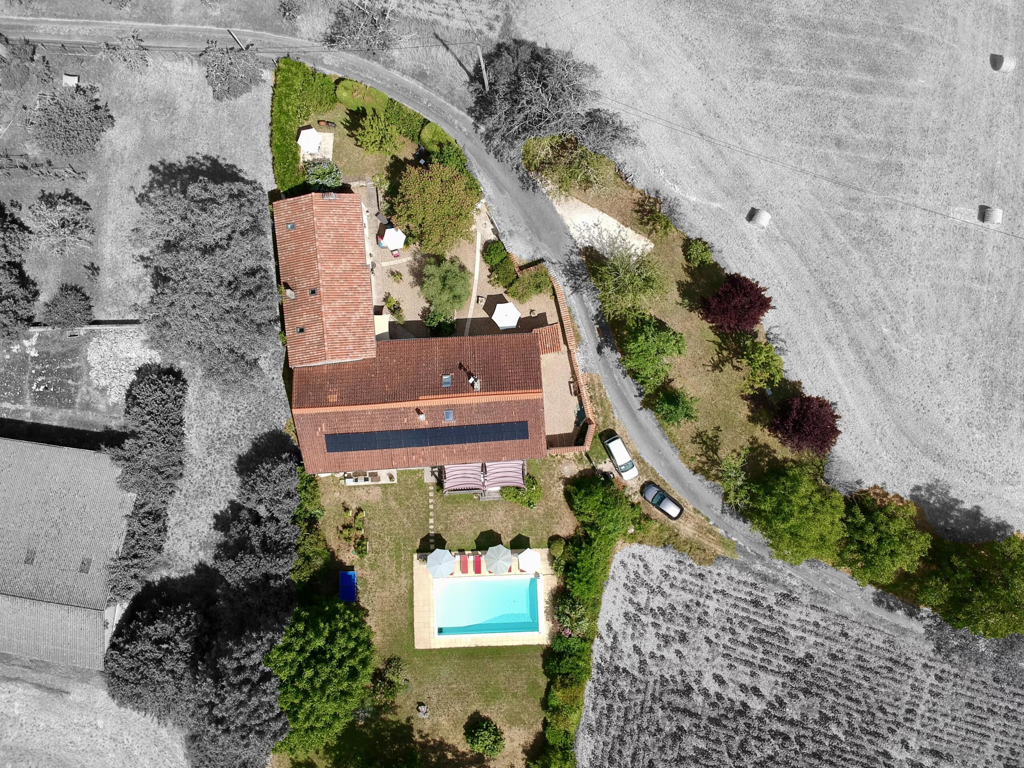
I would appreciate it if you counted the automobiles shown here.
2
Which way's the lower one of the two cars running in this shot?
on a diagonal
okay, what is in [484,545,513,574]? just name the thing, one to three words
umbrella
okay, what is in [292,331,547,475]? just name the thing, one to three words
house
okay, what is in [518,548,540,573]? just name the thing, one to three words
umbrella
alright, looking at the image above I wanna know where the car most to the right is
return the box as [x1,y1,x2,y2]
[641,481,685,522]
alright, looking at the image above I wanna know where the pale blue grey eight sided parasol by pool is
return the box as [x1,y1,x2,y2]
[427,550,454,578]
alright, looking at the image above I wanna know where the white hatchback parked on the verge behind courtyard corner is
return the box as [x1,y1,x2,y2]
[603,434,639,481]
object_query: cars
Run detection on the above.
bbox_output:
[603,434,639,481]
[641,481,685,522]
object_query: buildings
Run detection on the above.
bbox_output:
[0,433,159,671]
[292,331,547,475]
[63,72,87,91]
